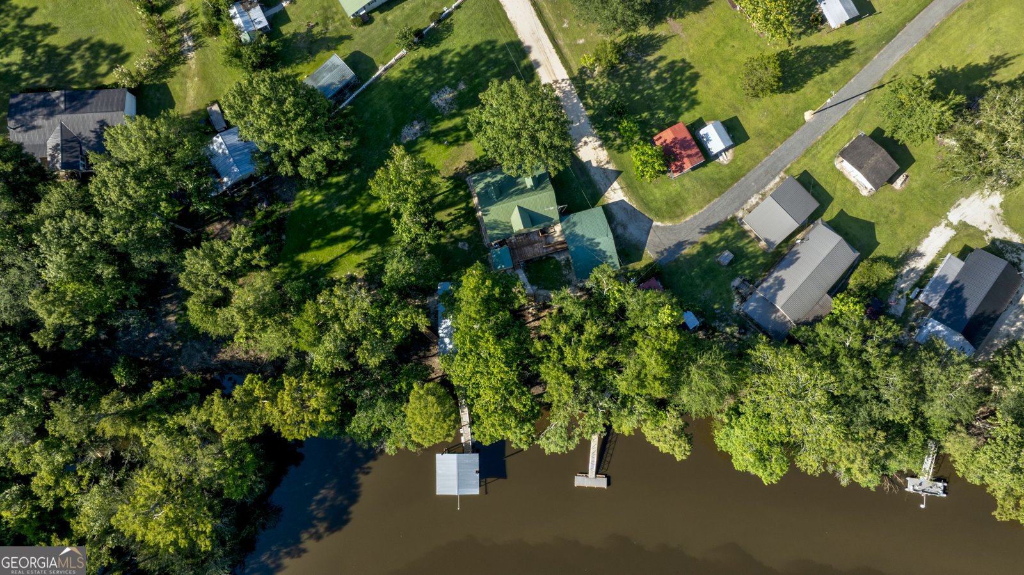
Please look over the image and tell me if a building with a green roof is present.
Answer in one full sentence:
Yes, you can see a building with a green roof in this photo.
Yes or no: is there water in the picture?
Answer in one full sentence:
Yes, water shows up in the scene.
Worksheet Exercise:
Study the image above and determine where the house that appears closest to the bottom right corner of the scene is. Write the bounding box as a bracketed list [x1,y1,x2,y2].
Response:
[910,248,1024,361]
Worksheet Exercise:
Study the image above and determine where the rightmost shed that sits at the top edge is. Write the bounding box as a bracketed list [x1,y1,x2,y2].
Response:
[810,0,859,32]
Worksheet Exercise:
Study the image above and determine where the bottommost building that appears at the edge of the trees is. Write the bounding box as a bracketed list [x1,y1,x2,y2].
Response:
[436,449,479,511]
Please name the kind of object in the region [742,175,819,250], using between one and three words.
shed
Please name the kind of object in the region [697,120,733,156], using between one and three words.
shed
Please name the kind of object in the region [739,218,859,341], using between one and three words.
house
